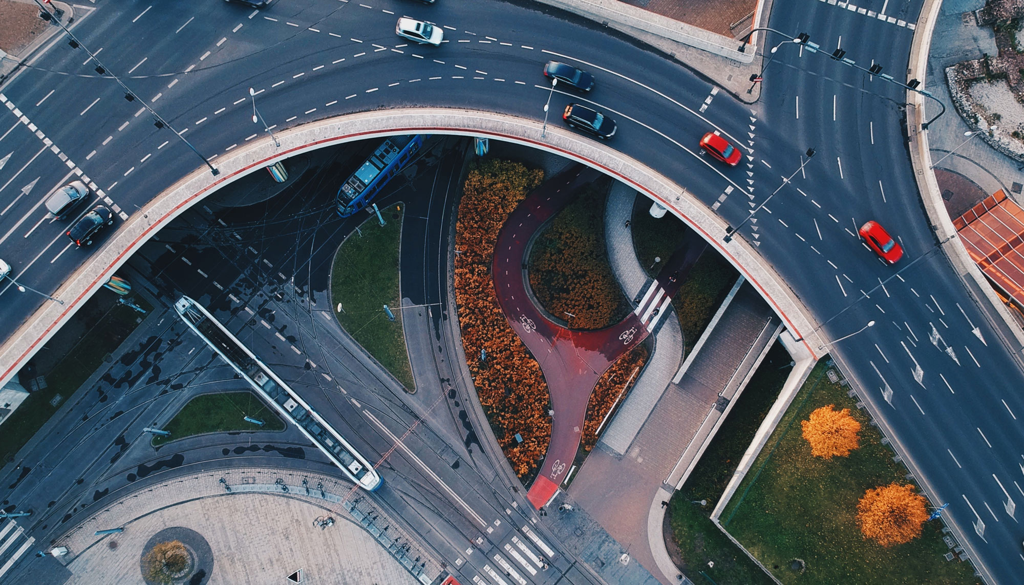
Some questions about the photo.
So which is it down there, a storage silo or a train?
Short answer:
train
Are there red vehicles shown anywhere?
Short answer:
Yes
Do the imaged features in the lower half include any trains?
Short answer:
Yes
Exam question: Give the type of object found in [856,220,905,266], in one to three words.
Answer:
car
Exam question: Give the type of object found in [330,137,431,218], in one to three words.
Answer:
train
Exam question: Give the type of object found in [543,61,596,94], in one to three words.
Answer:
car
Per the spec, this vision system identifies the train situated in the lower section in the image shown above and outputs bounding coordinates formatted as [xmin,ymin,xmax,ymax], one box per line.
[171,294,389,492]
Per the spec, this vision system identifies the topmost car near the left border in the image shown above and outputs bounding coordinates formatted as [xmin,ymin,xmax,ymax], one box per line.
[42,178,92,219]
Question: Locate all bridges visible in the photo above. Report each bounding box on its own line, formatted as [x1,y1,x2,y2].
[0,30,833,396]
